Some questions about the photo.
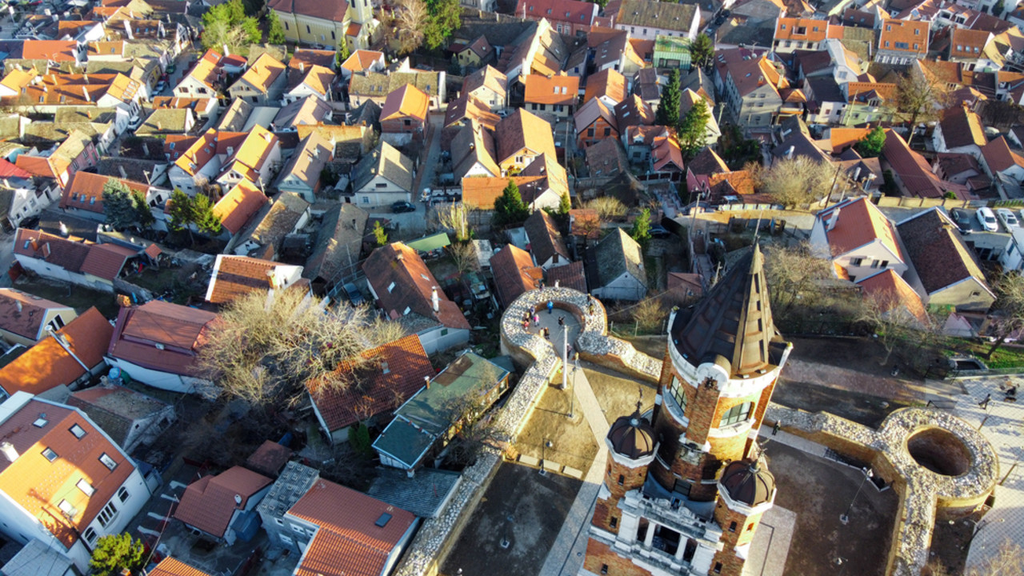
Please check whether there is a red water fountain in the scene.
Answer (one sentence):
No, there's no red water fountain here.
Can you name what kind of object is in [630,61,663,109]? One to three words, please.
house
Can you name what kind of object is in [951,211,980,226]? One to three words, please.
car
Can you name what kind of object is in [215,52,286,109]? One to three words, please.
house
